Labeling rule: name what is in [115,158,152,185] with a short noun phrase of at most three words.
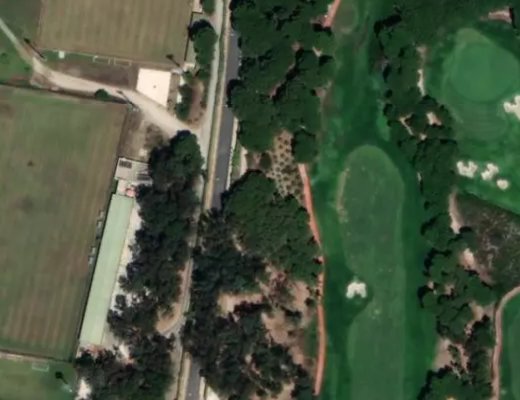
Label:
building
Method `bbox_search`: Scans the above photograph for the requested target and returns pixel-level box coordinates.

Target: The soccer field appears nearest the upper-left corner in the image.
[39,0,193,65]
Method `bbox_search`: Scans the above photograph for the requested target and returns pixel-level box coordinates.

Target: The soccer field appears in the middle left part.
[0,86,126,359]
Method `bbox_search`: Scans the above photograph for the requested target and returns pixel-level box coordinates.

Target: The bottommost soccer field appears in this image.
[0,360,75,400]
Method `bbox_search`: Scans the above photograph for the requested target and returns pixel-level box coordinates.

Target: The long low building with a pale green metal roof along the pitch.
[79,196,134,347]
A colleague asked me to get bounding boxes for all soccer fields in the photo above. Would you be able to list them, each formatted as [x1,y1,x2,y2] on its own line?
[39,0,193,65]
[0,86,126,359]
[0,360,75,400]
